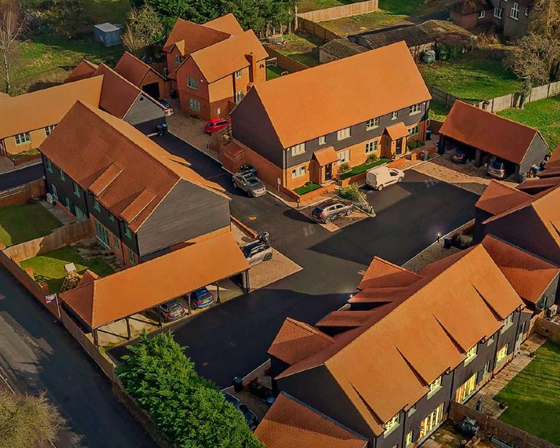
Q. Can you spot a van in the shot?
Yes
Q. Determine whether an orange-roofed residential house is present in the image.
Yes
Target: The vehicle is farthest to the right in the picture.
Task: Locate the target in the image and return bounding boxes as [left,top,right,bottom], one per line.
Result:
[484,155,511,180]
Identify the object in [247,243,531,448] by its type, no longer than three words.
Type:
house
